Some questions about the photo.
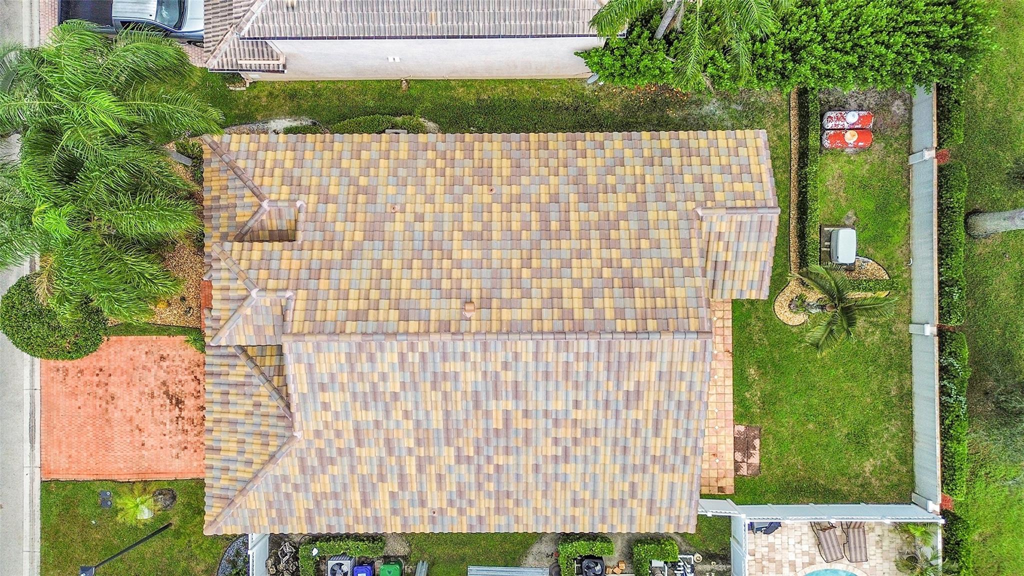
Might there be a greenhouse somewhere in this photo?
No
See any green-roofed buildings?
No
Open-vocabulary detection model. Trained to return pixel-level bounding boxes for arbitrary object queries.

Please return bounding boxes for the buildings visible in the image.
[199,129,782,537]
[198,0,626,94]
